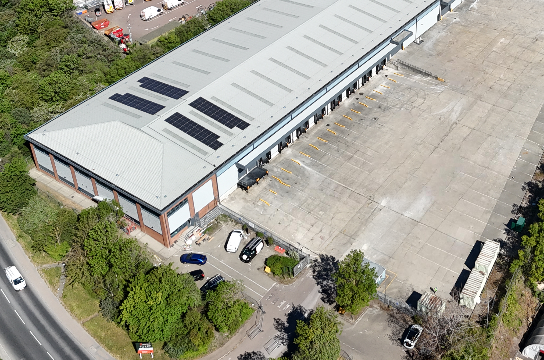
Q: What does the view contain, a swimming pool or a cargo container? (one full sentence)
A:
I can see a cargo container in this picture.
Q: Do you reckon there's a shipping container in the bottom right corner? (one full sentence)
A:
Yes, you'll find a shipping container in the bottom right corner.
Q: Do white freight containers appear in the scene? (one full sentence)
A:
Yes, a white freight container is visible in the scene.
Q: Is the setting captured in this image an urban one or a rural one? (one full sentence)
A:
From above, the setting appears urban.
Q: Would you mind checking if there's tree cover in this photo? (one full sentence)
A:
Yes, some tree cover is visible.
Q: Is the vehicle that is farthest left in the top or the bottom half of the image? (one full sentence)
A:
It is in the bottom half that the vehicle that is farthest left appears.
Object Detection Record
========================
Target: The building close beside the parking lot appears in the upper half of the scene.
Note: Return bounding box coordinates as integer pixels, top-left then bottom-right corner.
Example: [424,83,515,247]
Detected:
[22,0,464,245]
